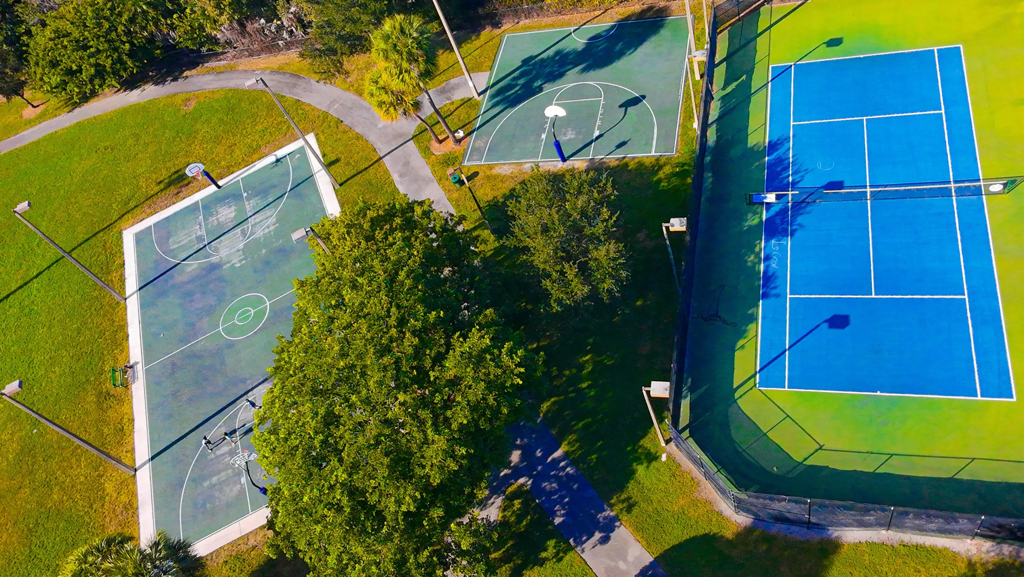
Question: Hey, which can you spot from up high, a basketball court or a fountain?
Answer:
basketball court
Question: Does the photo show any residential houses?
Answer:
No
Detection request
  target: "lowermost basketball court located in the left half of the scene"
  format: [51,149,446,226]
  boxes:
[122,131,411,570]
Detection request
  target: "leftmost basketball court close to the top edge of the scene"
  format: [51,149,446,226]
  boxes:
[461,11,700,166]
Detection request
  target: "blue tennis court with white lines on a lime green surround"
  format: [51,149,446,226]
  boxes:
[679,0,1024,540]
